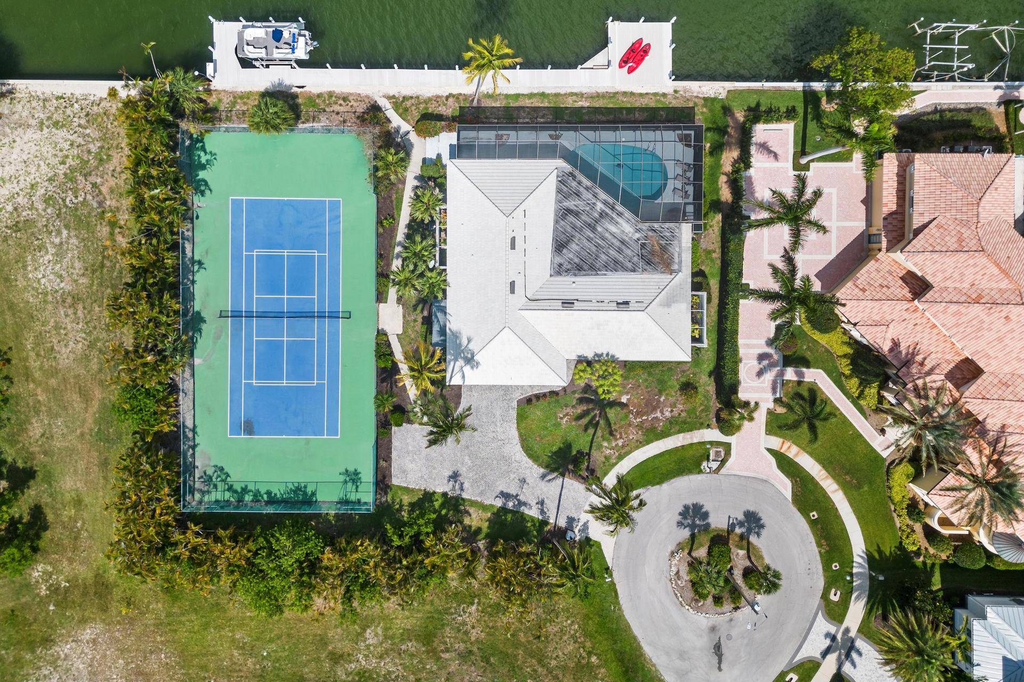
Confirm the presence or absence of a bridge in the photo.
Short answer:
No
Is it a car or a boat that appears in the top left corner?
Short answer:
boat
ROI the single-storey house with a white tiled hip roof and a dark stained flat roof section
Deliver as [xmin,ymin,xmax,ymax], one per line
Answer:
[446,159,692,385]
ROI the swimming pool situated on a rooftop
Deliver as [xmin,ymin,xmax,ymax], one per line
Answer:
[460,135,694,222]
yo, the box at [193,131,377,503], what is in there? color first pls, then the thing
green tennis court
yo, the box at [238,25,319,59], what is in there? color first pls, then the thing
white boat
